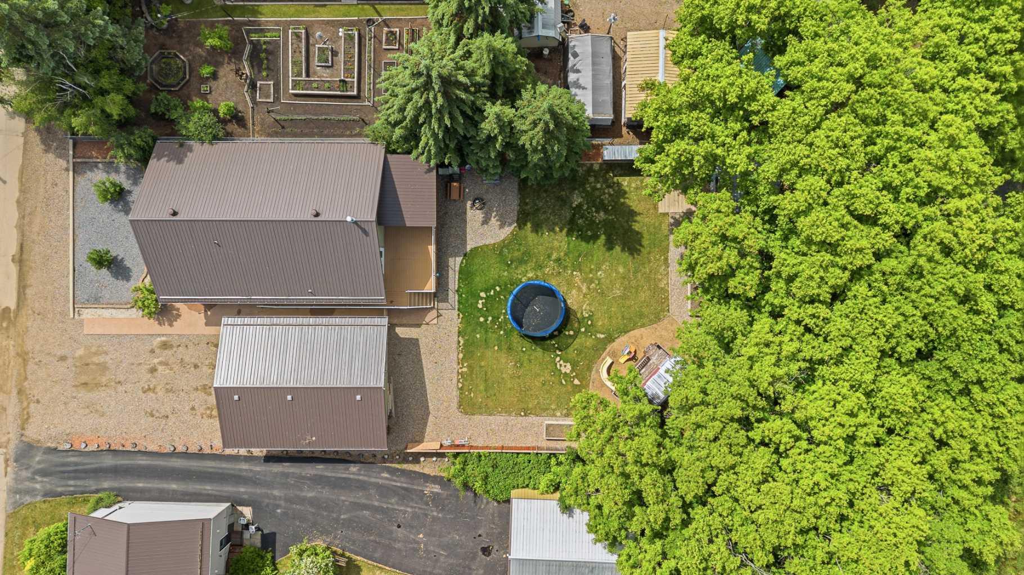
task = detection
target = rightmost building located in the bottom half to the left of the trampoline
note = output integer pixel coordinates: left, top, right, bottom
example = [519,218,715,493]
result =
[211,314,393,452]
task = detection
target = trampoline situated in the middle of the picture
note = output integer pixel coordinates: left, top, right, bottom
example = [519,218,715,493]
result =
[508,280,566,340]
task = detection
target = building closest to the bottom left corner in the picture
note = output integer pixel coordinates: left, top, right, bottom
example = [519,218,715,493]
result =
[65,501,230,575]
